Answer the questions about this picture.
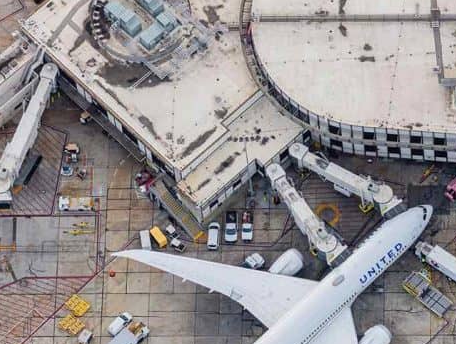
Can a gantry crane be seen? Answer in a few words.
No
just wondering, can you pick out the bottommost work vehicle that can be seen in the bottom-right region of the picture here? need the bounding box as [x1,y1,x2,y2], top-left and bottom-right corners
[401,267,456,320]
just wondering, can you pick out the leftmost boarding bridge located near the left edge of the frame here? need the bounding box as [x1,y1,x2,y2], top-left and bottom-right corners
[0,64,60,217]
